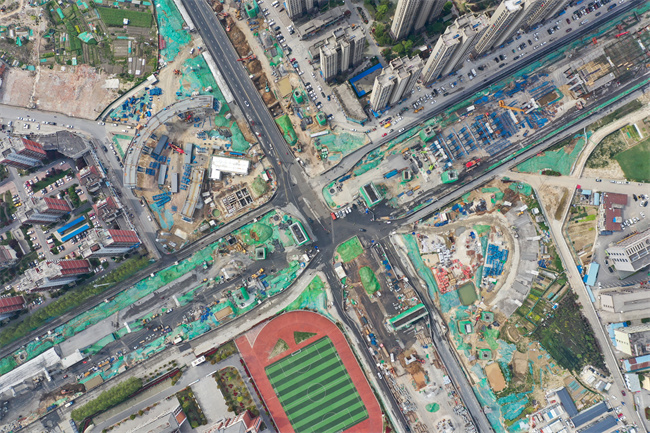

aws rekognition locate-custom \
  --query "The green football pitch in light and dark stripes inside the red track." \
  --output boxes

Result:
[265,336,368,433]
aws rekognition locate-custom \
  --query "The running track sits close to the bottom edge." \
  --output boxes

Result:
[234,310,383,433]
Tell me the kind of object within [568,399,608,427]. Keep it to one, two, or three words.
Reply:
shed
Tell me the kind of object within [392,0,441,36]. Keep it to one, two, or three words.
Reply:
building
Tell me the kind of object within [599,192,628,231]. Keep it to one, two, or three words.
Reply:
house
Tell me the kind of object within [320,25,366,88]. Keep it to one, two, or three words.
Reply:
building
